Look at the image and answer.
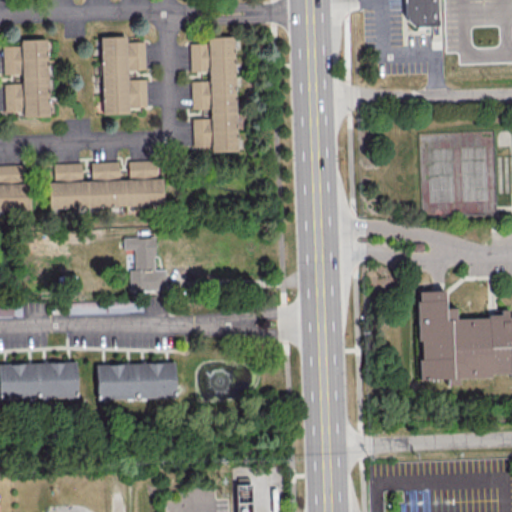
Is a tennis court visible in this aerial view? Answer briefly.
Yes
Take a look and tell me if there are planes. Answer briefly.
No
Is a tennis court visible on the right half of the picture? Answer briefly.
Yes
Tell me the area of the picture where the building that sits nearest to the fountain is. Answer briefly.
bottom left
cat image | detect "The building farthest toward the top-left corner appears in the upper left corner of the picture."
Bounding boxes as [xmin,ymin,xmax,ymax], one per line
[2,46,21,76]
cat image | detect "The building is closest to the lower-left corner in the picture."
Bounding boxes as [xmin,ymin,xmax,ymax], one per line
[0,362,78,400]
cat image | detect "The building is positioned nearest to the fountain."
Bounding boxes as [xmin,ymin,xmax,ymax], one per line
[97,362,177,400]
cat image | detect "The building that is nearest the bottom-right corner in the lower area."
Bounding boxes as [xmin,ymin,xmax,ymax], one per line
[420,292,512,382]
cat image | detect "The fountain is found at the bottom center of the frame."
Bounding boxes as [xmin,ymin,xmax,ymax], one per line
[206,368,232,392]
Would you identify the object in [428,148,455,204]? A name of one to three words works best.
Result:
tennis court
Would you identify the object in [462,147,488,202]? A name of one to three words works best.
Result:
tennis court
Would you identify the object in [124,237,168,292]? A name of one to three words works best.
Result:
house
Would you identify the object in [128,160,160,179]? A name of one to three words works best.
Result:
building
